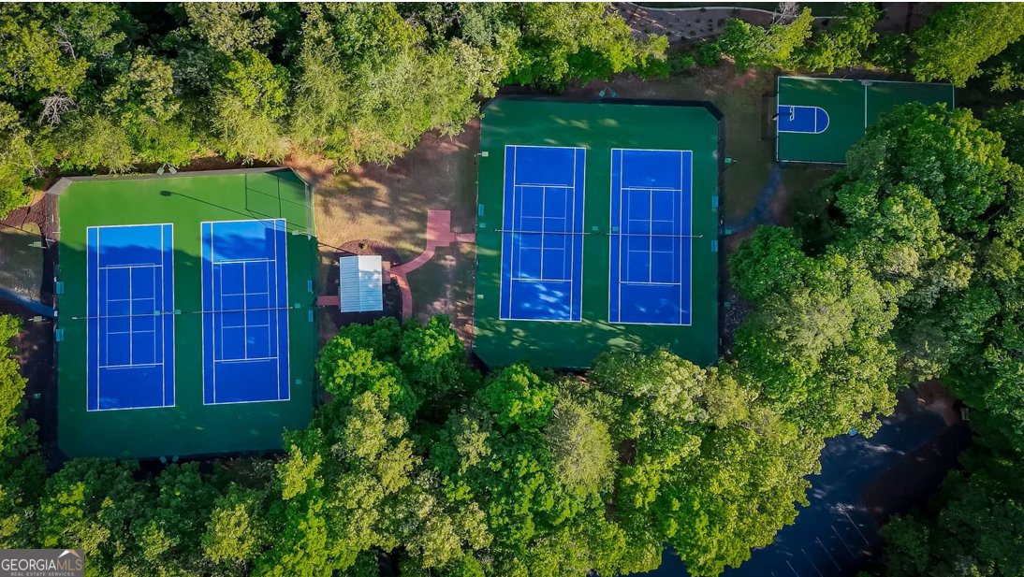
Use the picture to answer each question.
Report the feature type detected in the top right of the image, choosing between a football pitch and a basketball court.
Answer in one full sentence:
The feature located in the top right of the image is a basketball court.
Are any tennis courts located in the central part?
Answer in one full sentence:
Yes, there is a tennis court in the central part.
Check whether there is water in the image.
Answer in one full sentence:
No, the scene doesn't show any water.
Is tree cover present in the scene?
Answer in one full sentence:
Yes, tree cover shows up in the scene.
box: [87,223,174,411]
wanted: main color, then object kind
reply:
blue tennis court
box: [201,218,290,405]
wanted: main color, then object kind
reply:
blue tennis court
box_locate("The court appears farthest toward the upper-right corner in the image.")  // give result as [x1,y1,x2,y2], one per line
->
[777,76,955,164]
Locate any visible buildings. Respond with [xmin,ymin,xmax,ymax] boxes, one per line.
[340,255,385,312]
